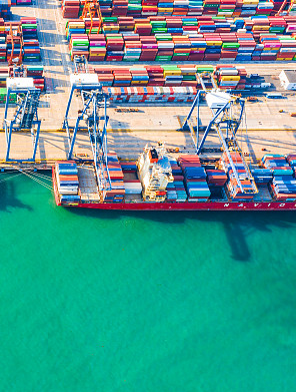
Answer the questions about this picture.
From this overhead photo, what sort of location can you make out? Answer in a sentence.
It's a port.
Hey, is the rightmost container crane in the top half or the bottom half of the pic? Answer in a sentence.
You can find the rightmost container crane in the top half.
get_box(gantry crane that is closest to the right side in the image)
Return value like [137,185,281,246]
[178,49,264,185]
